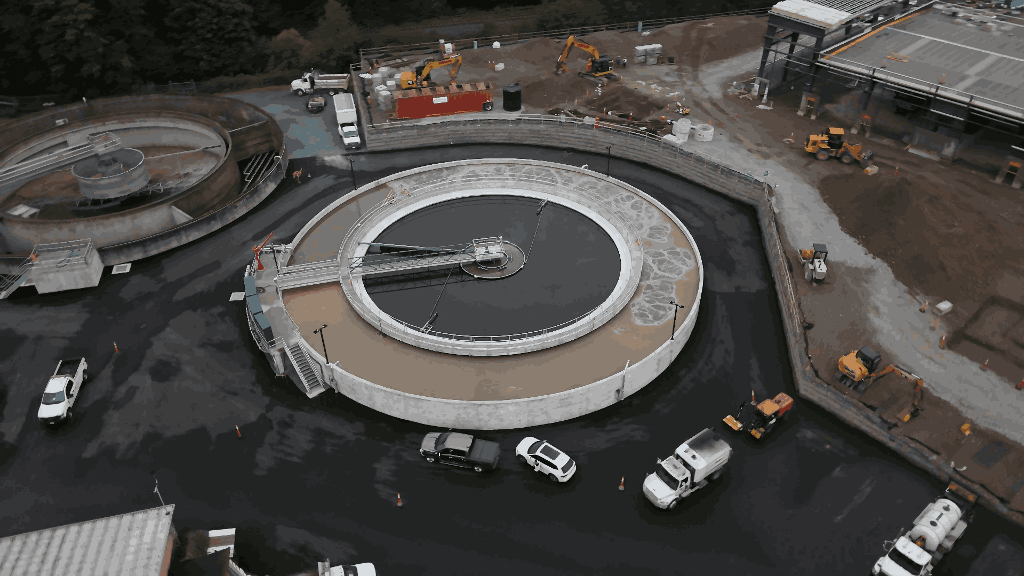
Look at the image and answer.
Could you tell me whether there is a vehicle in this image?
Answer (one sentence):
Yes, looking at the shot, I can spot a vehicle.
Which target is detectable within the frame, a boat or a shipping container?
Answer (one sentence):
The one in the frame is a shipping container.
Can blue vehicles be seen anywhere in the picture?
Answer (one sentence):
No, I can't see a single blue vehicle in this photo.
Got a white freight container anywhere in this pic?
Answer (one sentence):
No, no white freight container is visible in the scene.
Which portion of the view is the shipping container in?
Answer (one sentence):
Look in the top portion of the view to spot the shipping container.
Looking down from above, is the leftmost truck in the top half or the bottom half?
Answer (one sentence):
It is in the bottom half that the leftmost truck appears.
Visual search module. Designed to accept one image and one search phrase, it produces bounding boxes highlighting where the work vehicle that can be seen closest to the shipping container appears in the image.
[394,51,462,88]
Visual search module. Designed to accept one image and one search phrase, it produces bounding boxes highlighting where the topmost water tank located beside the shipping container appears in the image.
[501,80,522,110]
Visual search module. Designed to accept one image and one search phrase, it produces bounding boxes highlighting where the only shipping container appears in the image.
[386,80,494,118]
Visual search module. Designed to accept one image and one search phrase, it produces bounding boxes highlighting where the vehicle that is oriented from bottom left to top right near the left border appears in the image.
[36,361,89,427]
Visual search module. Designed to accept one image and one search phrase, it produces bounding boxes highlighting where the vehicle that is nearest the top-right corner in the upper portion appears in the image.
[806,129,869,164]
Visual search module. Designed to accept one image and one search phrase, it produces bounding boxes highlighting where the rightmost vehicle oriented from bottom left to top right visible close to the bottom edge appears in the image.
[878,485,984,576]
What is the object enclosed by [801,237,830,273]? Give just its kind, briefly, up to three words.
work vehicle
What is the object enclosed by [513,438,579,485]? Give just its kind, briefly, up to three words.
car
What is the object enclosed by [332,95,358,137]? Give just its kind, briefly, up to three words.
truck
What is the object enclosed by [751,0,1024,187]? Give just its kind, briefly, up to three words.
building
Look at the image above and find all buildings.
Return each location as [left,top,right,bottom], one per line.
[751,0,1024,187]
[0,502,190,576]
